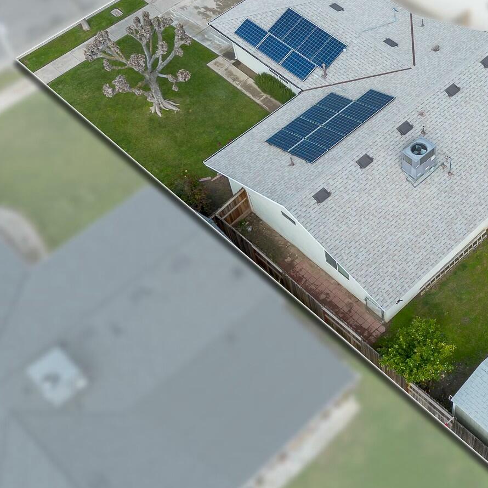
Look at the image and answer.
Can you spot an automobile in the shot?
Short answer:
No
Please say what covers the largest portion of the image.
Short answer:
buildings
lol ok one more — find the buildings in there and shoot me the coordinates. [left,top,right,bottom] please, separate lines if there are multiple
[446,355,488,447]
[0,189,361,488]
[203,0,488,322]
